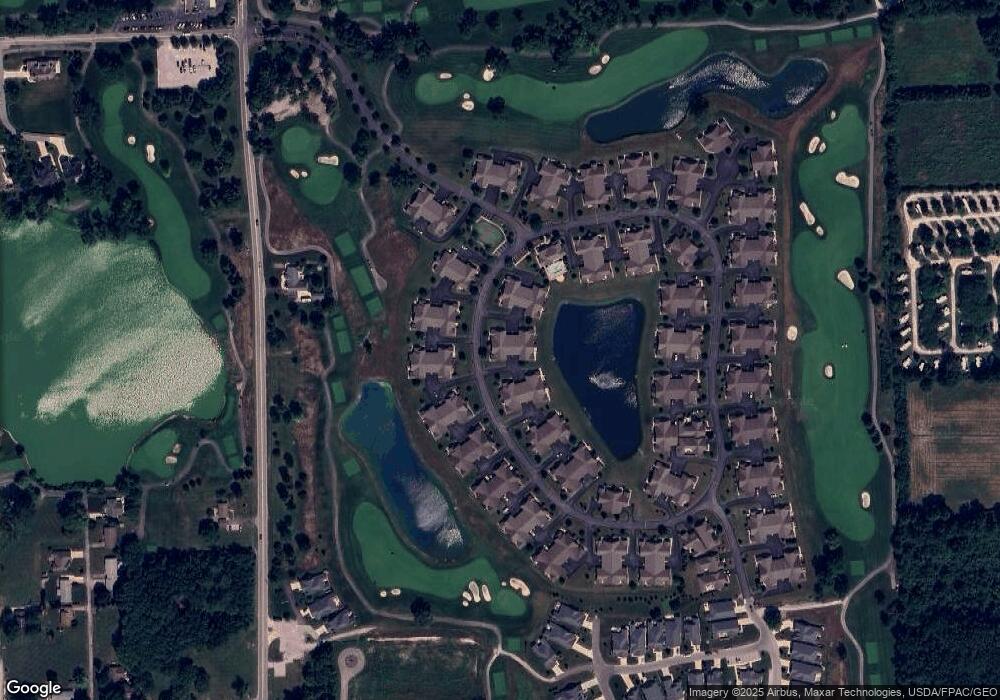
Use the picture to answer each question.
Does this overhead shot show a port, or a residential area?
residential area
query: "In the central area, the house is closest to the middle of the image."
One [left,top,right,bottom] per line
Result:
[488,328,538,360]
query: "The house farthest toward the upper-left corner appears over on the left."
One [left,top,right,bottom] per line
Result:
[27,61,56,78]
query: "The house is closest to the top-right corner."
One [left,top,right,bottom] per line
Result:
[752,143,776,177]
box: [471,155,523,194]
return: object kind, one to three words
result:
house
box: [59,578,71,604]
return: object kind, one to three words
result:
barn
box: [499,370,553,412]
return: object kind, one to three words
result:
house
